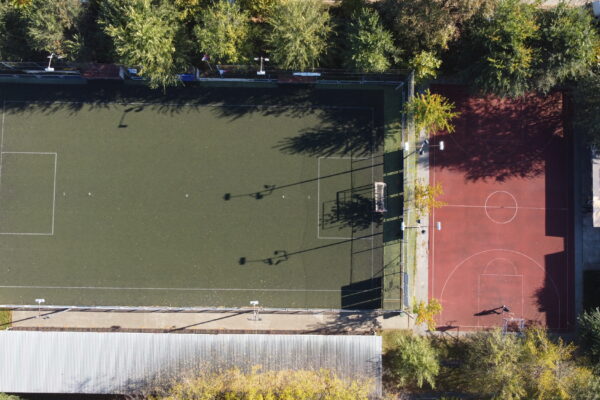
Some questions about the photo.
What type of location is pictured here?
sports ground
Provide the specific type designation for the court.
basketball court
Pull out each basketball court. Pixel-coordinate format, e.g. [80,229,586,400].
[428,88,574,331]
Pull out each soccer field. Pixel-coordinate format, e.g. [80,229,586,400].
[0,78,404,308]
